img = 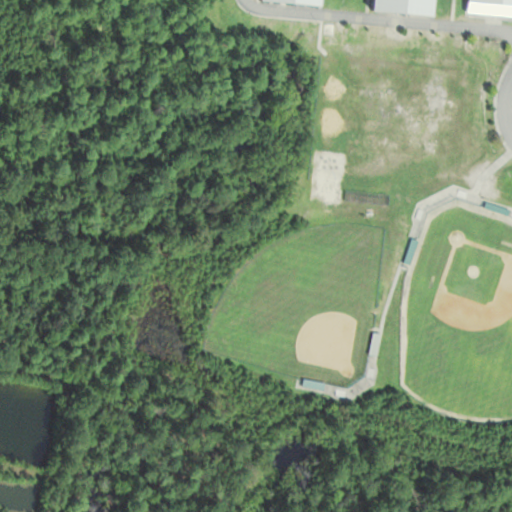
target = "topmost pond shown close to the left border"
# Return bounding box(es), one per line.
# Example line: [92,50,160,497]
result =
[0,384,52,468]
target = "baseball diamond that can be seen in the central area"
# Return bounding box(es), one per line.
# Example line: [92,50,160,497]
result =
[204,222,384,388]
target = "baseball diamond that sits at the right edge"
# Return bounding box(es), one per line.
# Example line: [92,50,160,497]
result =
[400,200,512,423]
